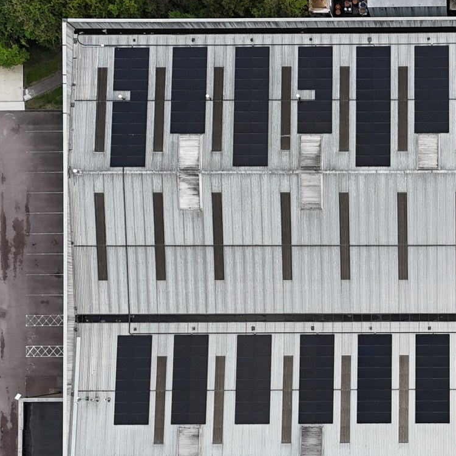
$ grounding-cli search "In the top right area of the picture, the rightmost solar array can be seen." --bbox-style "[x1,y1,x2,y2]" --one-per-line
[414,45,448,133]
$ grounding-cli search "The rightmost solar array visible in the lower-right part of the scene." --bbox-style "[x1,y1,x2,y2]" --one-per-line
[415,334,449,423]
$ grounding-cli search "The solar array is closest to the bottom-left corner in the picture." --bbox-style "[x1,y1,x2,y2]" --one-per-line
[115,335,152,424]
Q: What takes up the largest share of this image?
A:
buildings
